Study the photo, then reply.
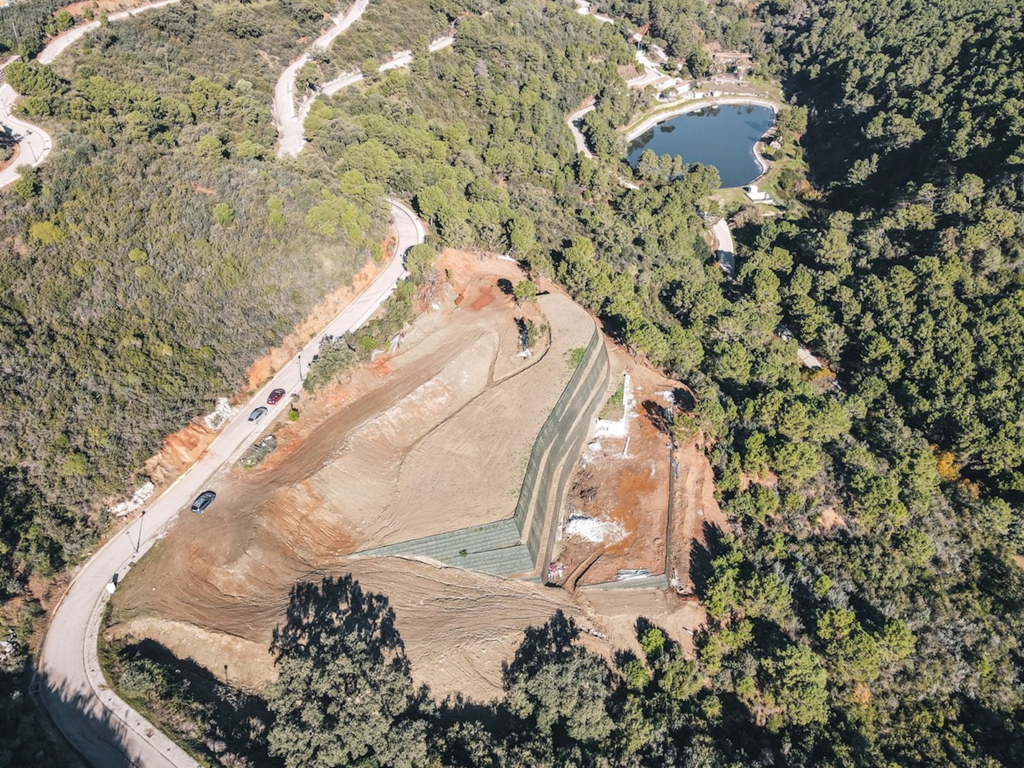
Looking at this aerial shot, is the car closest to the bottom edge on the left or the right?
left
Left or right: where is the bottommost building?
right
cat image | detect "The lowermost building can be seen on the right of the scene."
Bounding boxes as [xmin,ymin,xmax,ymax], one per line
[742,177,775,202]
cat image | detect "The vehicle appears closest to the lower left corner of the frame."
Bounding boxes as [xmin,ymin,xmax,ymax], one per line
[185,486,219,515]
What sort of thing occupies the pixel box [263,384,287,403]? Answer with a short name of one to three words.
car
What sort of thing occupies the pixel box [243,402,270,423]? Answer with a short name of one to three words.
car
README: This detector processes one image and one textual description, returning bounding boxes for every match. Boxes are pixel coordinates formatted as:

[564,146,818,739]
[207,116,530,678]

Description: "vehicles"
[185,486,219,515]
[243,402,270,423]
[263,384,287,403]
